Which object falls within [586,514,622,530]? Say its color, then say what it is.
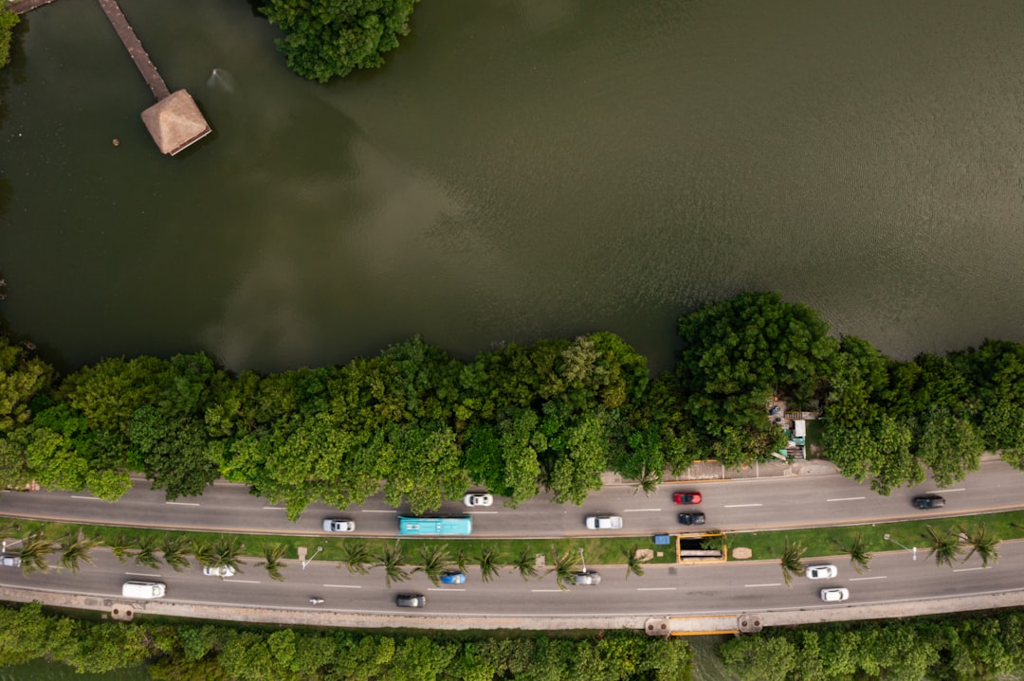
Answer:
white vehicle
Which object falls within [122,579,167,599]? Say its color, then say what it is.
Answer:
white vehicle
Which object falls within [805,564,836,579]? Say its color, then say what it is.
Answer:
white car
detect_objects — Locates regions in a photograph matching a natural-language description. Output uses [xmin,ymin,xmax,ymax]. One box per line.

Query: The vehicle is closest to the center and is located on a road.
[464,492,493,507]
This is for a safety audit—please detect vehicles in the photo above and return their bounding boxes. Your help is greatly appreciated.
[397,593,425,608]
[0,554,23,569]
[805,564,836,579]
[441,570,467,585]
[464,492,493,507]
[570,570,600,586]
[586,514,622,530]
[677,511,705,526]
[122,579,167,599]
[323,517,355,532]
[395,511,475,534]
[673,490,701,505]
[819,587,848,602]
[205,564,236,579]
